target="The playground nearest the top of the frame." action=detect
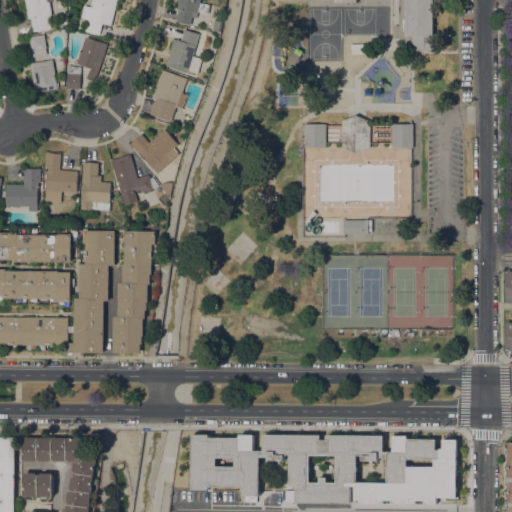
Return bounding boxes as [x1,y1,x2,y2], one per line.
[272,44,306,74]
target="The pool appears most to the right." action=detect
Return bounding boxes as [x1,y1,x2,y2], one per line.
[186,84,202,110]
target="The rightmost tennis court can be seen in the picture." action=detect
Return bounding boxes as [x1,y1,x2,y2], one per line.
[420,254,454,328]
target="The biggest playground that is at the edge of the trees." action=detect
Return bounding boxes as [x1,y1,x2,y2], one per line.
[358,58,410,103]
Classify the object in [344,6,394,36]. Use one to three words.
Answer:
basketball court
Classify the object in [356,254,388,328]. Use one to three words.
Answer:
tennis court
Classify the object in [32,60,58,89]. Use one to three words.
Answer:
house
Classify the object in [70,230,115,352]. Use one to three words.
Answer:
building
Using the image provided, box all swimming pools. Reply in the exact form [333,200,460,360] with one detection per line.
[50,35,64,58]
[71,34,83,58]
[186,84,202,110]
[10,212,34,224]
